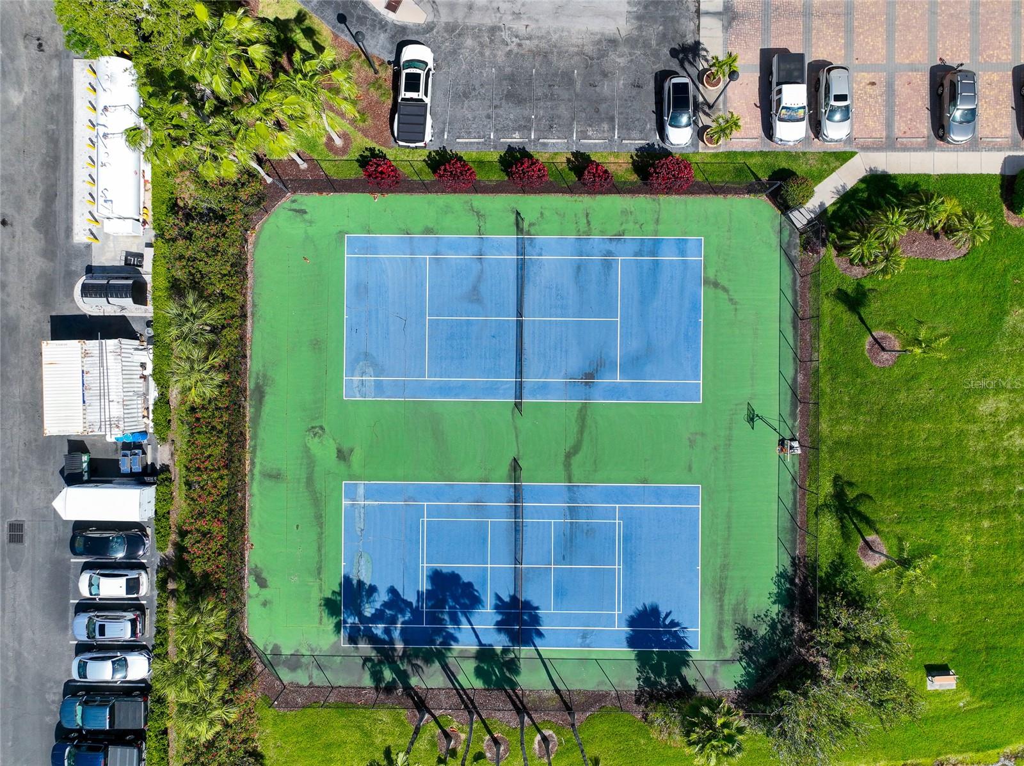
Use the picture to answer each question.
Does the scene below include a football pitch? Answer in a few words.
No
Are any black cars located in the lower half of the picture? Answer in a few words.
Yes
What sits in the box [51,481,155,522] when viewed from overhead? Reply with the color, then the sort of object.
white trailer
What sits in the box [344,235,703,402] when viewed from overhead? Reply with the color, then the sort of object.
blue tennis court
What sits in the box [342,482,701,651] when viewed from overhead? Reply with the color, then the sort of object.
blue tennis court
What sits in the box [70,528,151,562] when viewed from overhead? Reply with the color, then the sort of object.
black car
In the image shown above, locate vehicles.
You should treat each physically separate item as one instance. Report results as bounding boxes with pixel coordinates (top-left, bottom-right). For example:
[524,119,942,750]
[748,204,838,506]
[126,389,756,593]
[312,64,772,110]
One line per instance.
[70,528,151,562]
[53,731,150,766]
[61,689,153,731]
[769,53,810,147]
[939,70,981,145]
[78,567,153,602]
[73,607,148,644]
[661,75,697,148]
[816,65,855,143]
[72,648,153,685]
[395,44,435,148]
